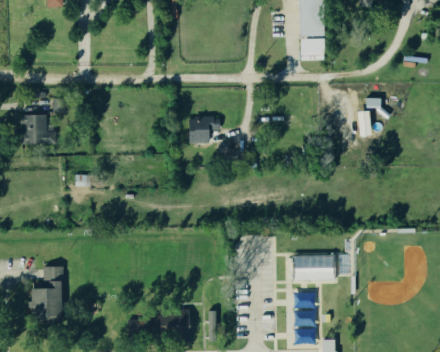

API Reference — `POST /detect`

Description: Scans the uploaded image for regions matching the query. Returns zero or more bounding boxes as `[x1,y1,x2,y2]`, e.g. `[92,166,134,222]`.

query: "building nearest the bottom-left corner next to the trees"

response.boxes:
[32,266,64,319]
